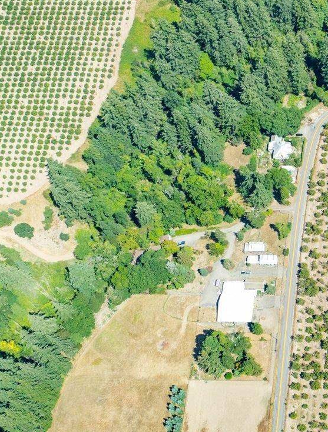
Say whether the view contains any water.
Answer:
No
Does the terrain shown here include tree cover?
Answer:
Yes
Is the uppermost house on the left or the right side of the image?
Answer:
right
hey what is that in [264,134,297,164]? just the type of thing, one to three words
house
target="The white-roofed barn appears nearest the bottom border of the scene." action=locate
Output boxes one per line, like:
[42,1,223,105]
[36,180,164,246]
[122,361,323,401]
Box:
[215,281,268,327]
